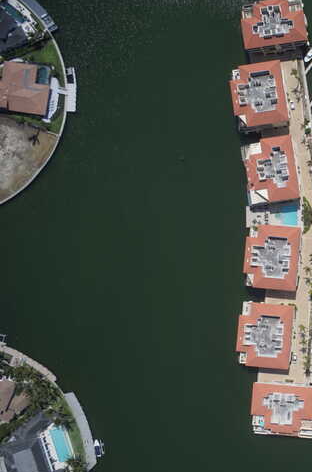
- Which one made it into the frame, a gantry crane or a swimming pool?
swimming pool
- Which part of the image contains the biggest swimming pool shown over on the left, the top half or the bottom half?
bottom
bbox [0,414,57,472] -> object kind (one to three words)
house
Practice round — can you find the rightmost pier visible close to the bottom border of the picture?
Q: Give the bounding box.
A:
[65,391,97,470]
